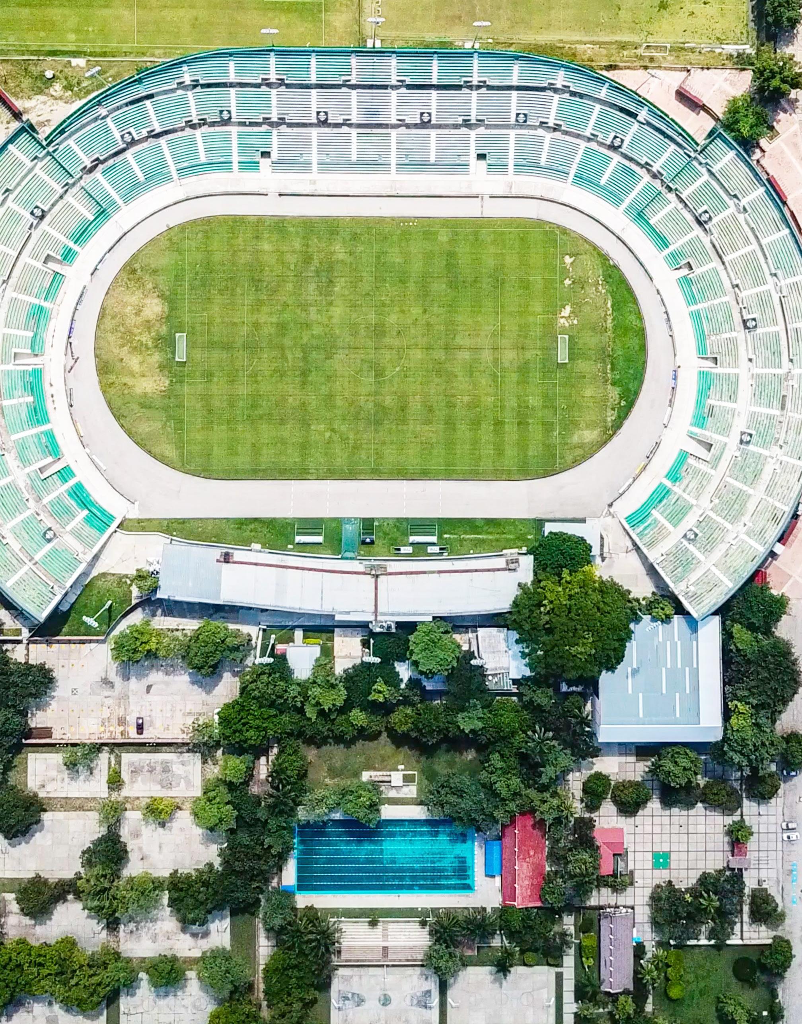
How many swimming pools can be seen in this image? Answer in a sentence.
Just 1 swimming pool appears in this view.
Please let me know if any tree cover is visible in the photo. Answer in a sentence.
Yes, the picture does contain tree cover.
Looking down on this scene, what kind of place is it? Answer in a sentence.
It's a sports ground.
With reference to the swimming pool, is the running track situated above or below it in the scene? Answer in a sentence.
As seen from overhead, the running track falls above the swimming pool in the picture.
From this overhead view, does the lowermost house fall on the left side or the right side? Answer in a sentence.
The lowermost house appears in the right half of the scene.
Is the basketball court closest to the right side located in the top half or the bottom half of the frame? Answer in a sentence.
The basketball court closest to the right side is in the bottom half of the image.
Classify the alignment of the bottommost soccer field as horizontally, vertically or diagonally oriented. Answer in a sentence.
The bottommost soccer field has been laid out horizontally relative to the frame.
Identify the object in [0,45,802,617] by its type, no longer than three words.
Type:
stadium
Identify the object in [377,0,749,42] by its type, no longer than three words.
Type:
sports field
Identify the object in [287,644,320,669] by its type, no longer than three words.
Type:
shed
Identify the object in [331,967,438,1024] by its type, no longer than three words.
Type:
basketball court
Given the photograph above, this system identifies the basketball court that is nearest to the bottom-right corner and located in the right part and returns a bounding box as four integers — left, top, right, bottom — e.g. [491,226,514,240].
[447,967,555,1024]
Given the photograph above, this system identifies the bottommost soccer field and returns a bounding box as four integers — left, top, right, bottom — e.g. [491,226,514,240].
[94,216,648,480]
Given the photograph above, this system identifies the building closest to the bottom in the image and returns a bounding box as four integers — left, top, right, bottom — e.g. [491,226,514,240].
[600,908,634,992]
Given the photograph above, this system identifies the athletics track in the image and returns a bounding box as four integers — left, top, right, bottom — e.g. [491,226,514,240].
[64,194,676,517]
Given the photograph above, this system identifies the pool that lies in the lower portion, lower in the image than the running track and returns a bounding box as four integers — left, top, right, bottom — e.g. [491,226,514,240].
[281,806,502,908]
